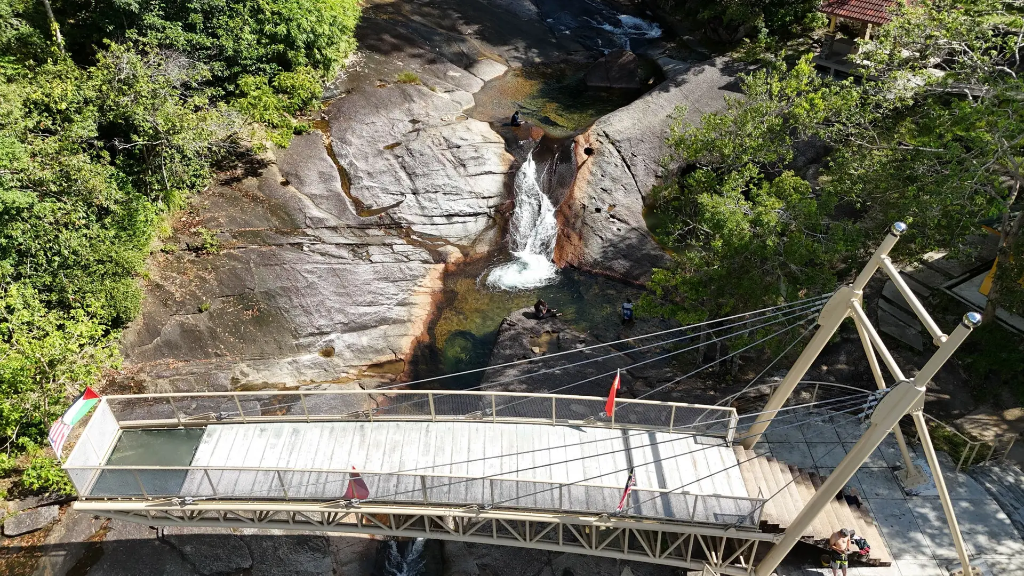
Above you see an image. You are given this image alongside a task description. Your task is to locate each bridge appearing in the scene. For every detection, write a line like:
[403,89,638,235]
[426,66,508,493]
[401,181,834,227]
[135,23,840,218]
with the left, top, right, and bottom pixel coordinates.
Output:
[51,389,778,576]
